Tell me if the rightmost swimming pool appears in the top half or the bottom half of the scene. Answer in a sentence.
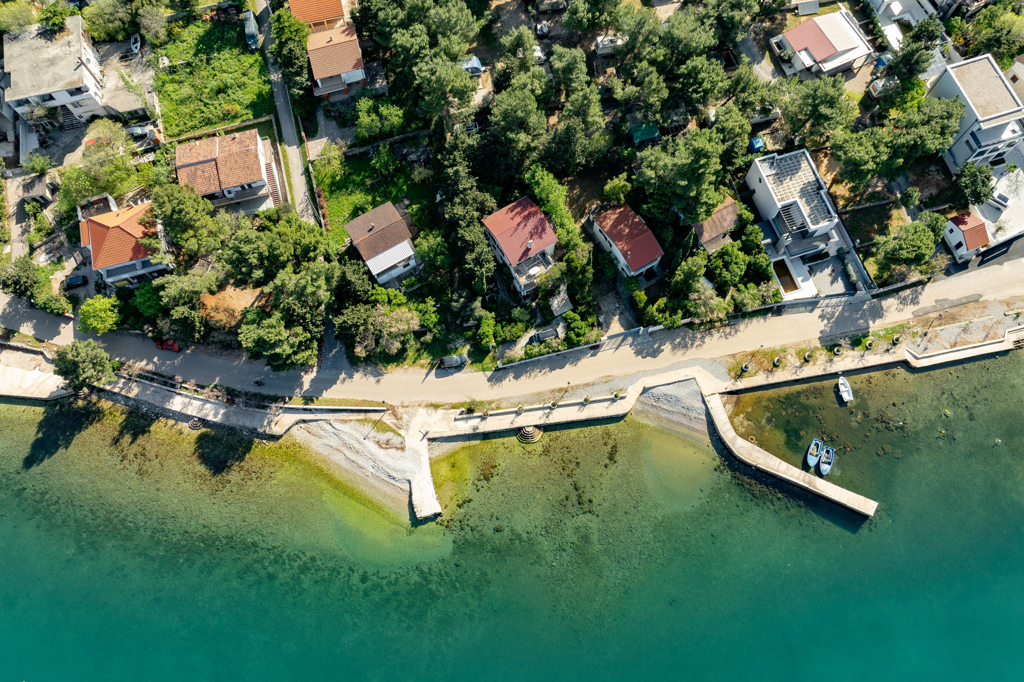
The rightmost swimming pool is in the top half of the image.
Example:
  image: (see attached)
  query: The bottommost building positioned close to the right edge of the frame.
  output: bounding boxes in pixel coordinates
[936,212,989,266]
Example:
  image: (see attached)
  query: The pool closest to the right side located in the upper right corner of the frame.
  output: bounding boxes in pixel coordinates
[891,13,918,38]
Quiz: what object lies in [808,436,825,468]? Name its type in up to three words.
boat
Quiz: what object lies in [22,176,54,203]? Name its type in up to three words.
shed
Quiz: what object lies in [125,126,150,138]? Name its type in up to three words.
vehicle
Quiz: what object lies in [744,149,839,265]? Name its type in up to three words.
house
